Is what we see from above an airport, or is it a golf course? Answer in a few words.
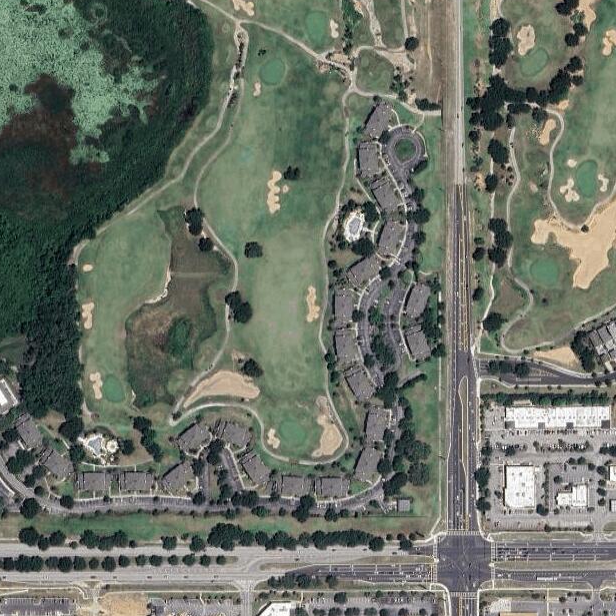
golf course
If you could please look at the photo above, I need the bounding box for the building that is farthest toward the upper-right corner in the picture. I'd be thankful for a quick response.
[362,97,395,139]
